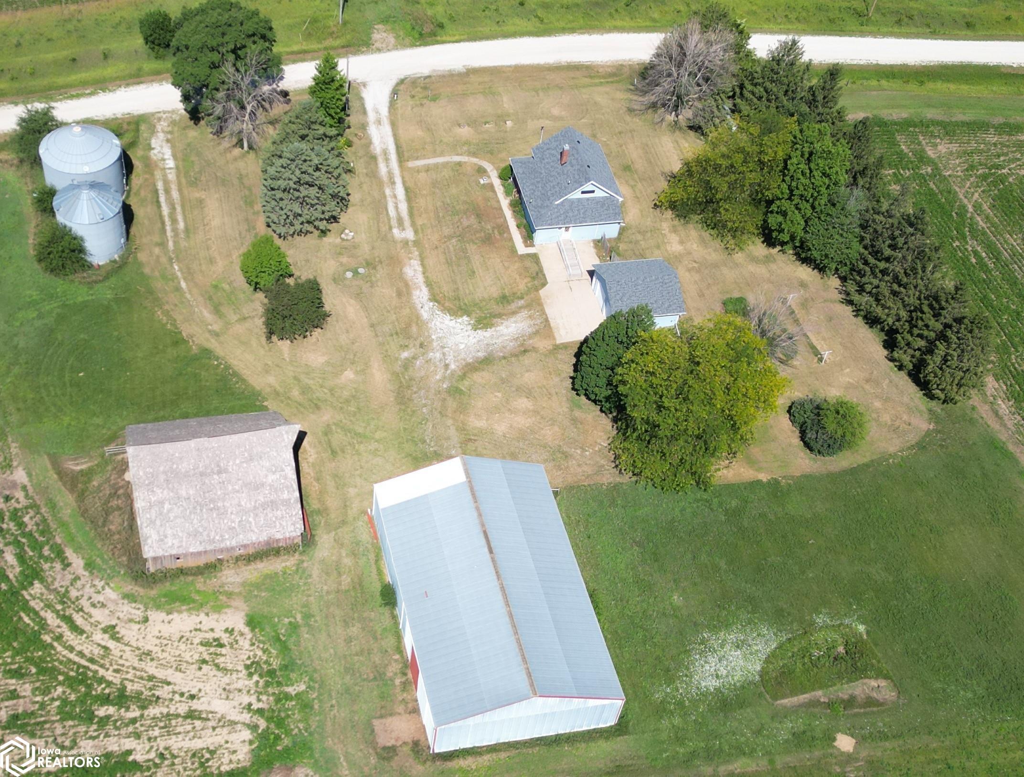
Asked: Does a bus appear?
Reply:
No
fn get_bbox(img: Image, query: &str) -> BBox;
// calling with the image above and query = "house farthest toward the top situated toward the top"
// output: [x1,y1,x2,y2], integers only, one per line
[508,127,630,243]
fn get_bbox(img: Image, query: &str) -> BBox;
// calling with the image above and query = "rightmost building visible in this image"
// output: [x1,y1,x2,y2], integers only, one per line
[590,259,687,333]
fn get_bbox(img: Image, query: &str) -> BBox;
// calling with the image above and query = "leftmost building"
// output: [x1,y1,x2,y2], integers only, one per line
[124,410,304,569]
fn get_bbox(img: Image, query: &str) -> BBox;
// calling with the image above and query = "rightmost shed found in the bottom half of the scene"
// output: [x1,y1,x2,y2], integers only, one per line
[373,456,625,754]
